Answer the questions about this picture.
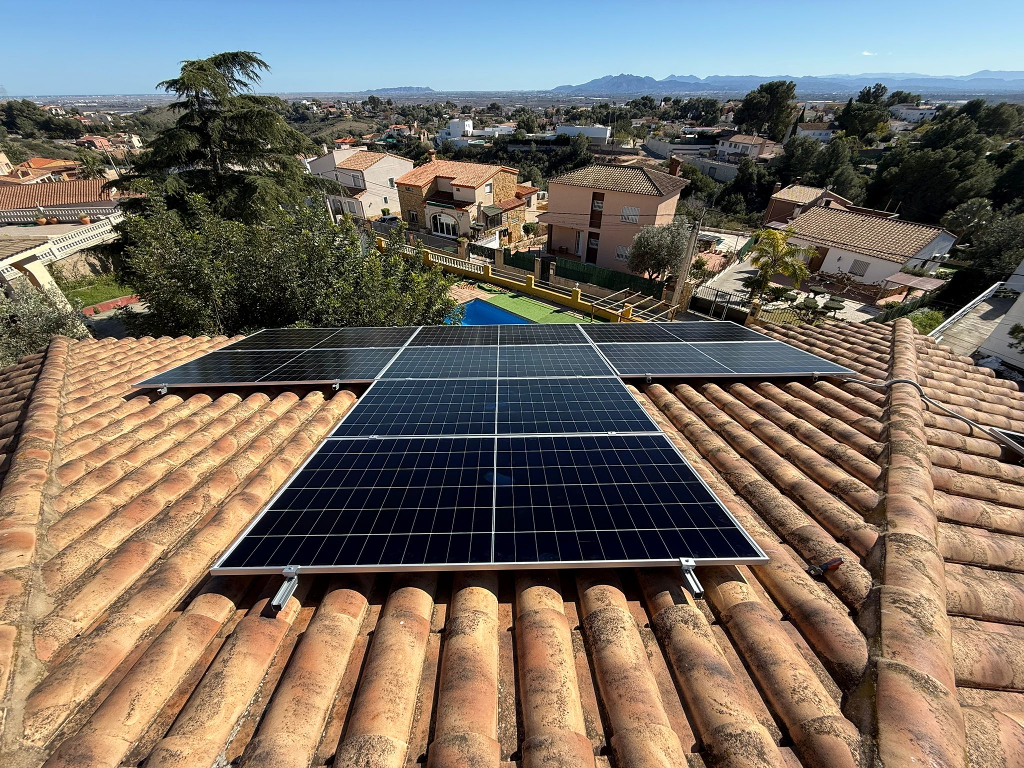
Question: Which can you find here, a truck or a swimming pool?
swimming pool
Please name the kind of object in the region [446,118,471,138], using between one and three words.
house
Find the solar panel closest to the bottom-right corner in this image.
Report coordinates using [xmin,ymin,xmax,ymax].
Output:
[988,428,1024,457]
